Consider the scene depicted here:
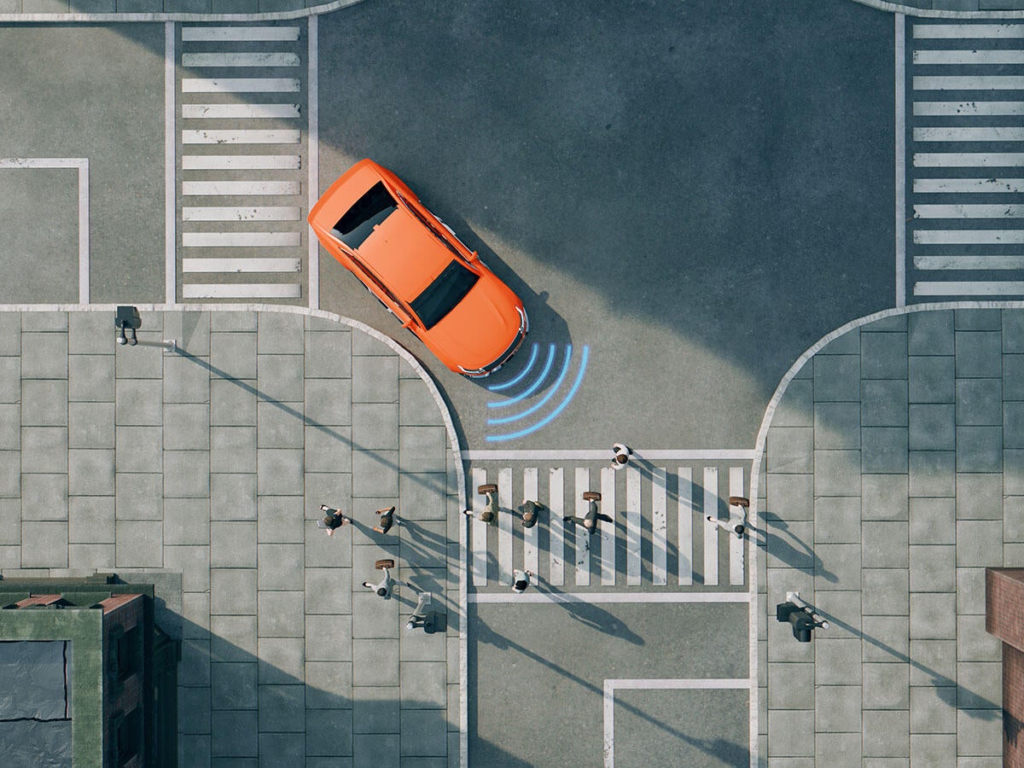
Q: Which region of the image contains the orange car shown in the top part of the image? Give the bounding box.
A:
[308,157,534,380]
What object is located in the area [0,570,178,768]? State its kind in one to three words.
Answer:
building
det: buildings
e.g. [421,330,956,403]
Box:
[986,630,1024,768]
[0,570,178,768]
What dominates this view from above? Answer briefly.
paved ground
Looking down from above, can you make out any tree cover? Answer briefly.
No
